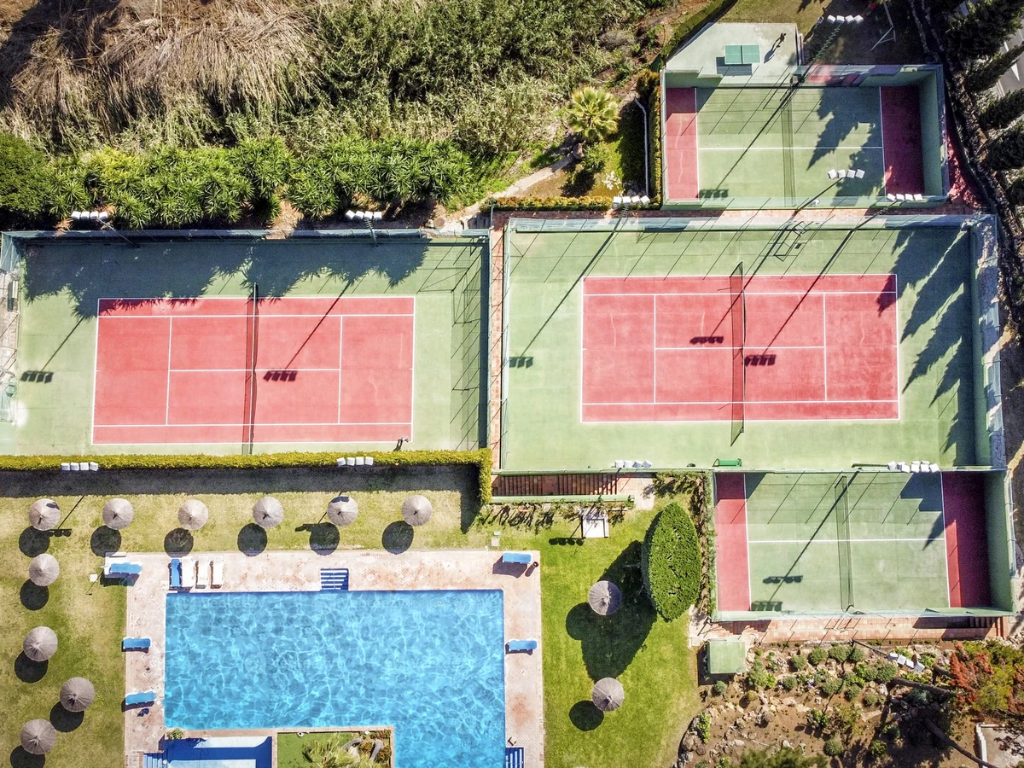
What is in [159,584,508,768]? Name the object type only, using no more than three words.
swimming pool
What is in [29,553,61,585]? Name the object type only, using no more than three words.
umbrella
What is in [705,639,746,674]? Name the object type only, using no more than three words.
shed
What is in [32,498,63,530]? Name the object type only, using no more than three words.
umbrella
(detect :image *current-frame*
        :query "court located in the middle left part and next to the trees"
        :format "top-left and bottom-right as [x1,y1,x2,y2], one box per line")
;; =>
[0,243,489,456]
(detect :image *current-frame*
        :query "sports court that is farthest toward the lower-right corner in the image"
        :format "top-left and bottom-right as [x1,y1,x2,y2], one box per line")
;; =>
[697,469,996,614]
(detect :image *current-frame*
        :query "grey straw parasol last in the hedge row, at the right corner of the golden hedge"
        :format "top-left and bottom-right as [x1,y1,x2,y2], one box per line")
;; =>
[402,495,433,526]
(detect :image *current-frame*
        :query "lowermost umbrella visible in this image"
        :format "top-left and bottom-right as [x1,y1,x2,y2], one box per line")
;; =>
[20,717,58,755]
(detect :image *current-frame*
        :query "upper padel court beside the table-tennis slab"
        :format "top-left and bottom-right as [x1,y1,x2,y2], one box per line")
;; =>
[664,81,927,211]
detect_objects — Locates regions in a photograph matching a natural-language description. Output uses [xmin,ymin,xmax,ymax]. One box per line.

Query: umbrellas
[402,495,433,526]
[327,495,358,526]
[103,497,135,529]
[178,498,210,529]
[591,677,624,710]
[253,496,284,527]
[588,580,621,614]
[32,498,63,530]
[29,553,61,585]
[20,717,58,755]
[23,625,60,661]
[60,675,96,712]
